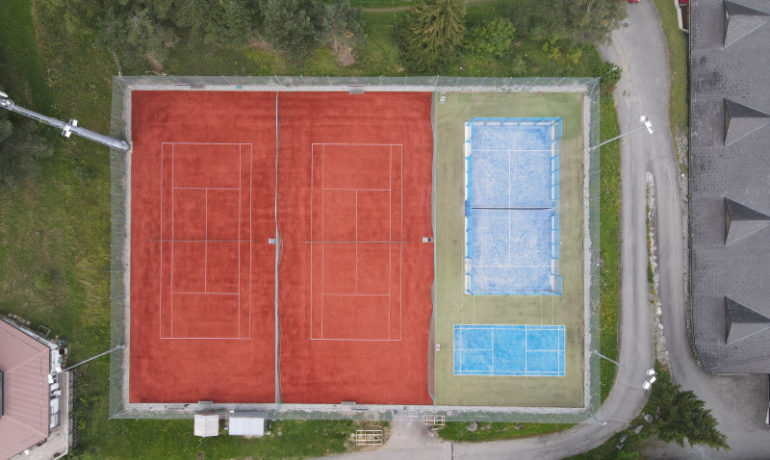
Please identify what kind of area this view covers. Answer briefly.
sports ground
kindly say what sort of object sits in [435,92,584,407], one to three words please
sports court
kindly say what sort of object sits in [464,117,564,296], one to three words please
sports court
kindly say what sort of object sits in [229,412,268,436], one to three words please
shed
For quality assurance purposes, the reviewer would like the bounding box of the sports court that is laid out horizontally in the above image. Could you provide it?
[454,325,565,377]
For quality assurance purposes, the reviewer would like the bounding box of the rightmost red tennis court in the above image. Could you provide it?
[277,91,433,404]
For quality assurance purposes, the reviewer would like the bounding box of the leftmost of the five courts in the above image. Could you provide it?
[129,91,278,404]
